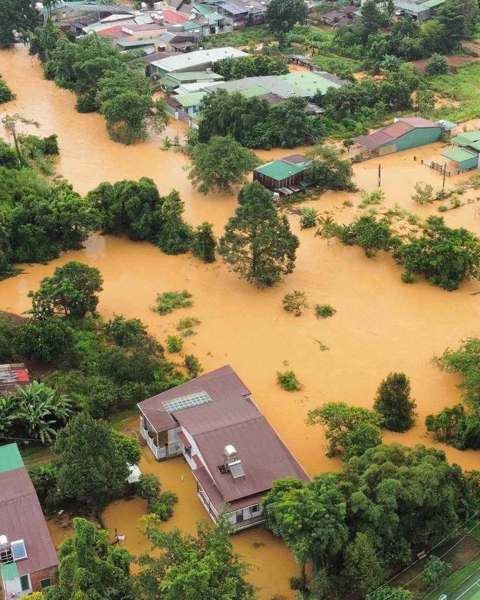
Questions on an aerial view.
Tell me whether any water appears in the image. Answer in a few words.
Yes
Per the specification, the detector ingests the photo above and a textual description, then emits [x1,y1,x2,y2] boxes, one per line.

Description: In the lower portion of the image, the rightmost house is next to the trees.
[139,365,313,526]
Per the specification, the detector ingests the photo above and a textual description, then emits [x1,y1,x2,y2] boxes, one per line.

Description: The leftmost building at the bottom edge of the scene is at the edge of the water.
[0,444,65,600]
